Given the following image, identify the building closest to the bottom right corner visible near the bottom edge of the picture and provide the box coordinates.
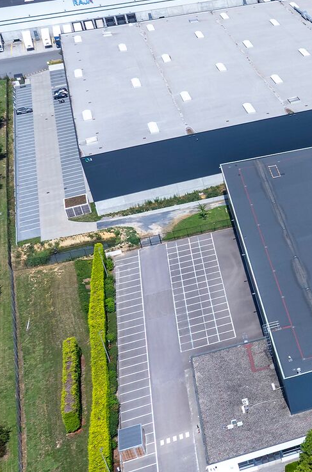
[191,337,312,472]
